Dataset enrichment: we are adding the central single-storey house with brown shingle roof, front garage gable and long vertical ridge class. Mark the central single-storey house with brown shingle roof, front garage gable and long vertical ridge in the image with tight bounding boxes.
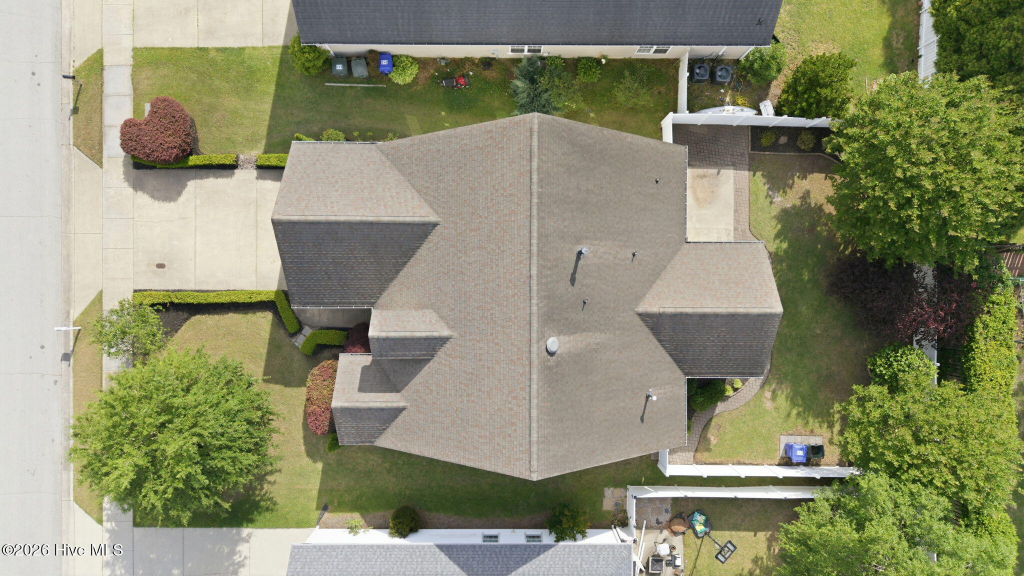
[271,107,784,480]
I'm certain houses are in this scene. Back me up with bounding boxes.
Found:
[293,0,784,60]
[286,527,634,576]
[271,107,784,480]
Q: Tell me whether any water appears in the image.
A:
No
